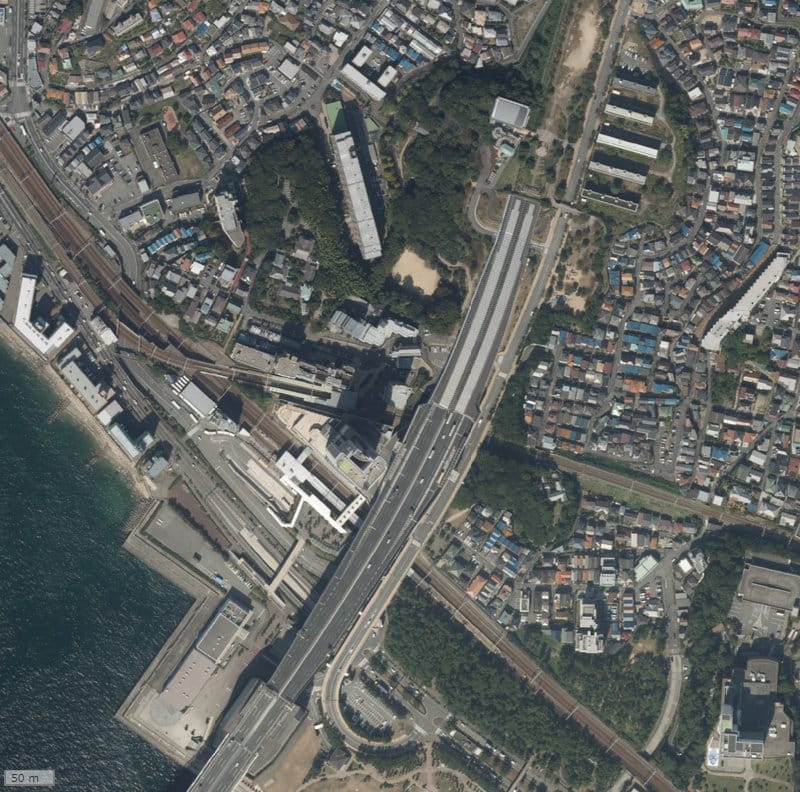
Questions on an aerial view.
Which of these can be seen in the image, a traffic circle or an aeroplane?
traffic circle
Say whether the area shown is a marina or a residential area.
residential area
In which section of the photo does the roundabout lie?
bottom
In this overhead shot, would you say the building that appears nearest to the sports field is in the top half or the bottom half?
top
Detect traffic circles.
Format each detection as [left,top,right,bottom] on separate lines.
[398,690,454,742]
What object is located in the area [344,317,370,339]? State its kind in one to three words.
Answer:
building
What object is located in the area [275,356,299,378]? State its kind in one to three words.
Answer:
building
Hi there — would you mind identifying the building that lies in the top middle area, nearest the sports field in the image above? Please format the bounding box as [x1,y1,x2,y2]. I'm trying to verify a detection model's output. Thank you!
[332,130,384,262]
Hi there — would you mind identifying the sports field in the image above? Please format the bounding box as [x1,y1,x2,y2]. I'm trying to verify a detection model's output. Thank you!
[392,247,438,294]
